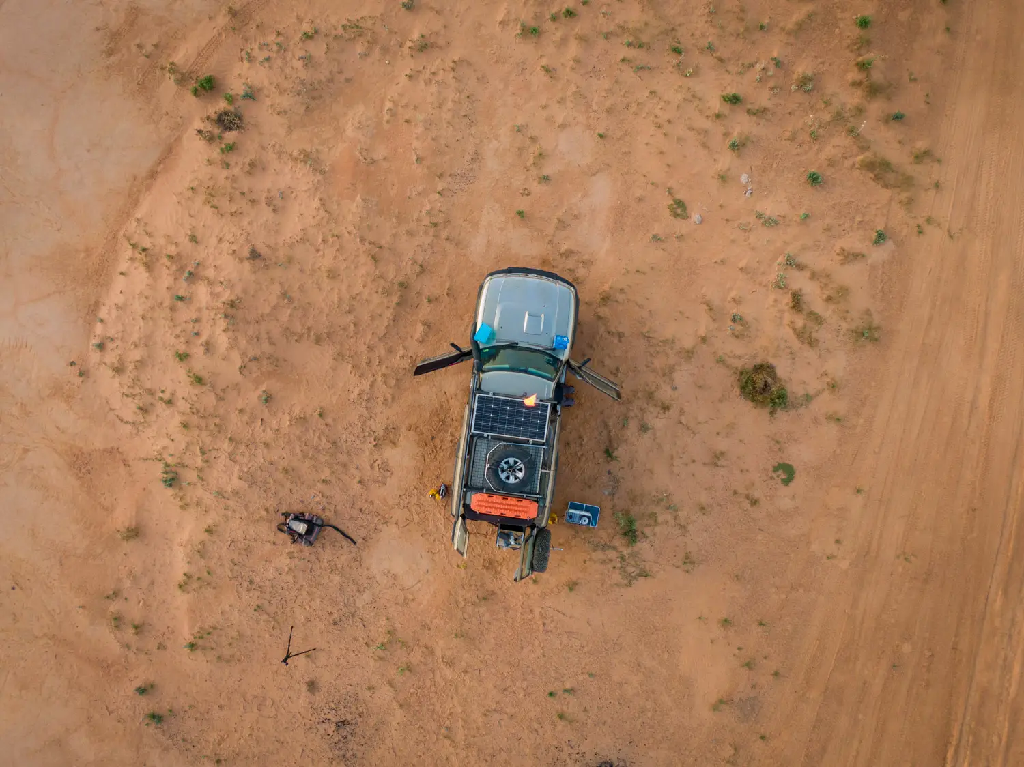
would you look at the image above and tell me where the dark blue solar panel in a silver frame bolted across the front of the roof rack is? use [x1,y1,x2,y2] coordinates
[472,395,550,441]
